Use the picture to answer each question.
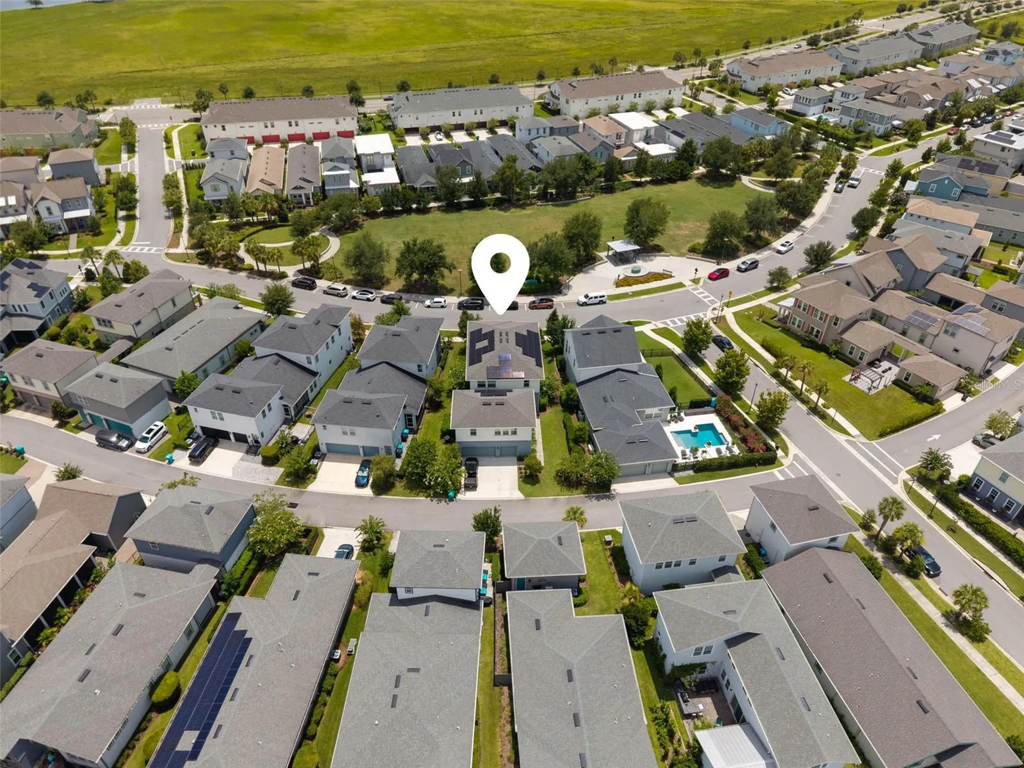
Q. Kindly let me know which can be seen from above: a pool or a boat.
pool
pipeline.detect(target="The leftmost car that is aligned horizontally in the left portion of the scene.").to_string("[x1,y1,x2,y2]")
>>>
[94,429,132,449]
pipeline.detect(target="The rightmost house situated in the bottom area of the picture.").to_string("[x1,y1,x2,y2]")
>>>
[967,436,1024,527]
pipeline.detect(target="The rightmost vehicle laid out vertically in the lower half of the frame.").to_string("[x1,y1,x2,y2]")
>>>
[463,457,479,490]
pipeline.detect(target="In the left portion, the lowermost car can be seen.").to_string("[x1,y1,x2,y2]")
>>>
[333,539,355,560]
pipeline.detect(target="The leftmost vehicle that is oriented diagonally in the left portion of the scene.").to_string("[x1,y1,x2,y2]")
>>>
[134,422,168,450]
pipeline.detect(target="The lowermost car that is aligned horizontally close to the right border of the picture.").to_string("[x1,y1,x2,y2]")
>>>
[968,433,1007,448]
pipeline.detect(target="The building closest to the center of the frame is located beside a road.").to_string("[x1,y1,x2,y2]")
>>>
[450,321,544,457]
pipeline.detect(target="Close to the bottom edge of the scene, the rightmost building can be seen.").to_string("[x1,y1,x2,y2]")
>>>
[762,549,1024,768]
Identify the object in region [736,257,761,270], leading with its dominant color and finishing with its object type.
gray vehicle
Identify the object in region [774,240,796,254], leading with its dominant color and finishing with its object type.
white car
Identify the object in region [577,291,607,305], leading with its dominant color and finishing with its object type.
white car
